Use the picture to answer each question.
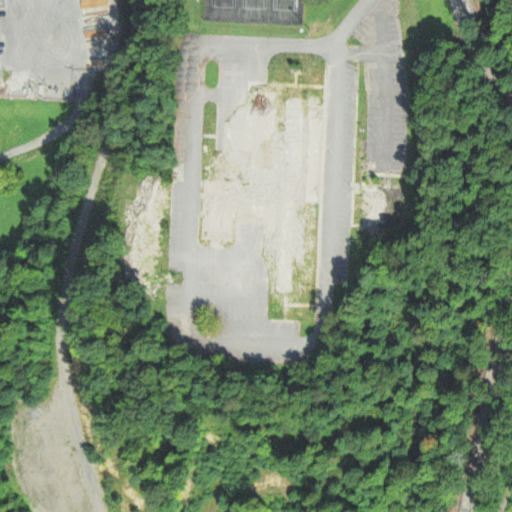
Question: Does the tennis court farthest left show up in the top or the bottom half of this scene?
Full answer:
The top half of the photo is where the tennis court farthest left is.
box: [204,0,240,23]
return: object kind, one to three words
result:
tennis court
